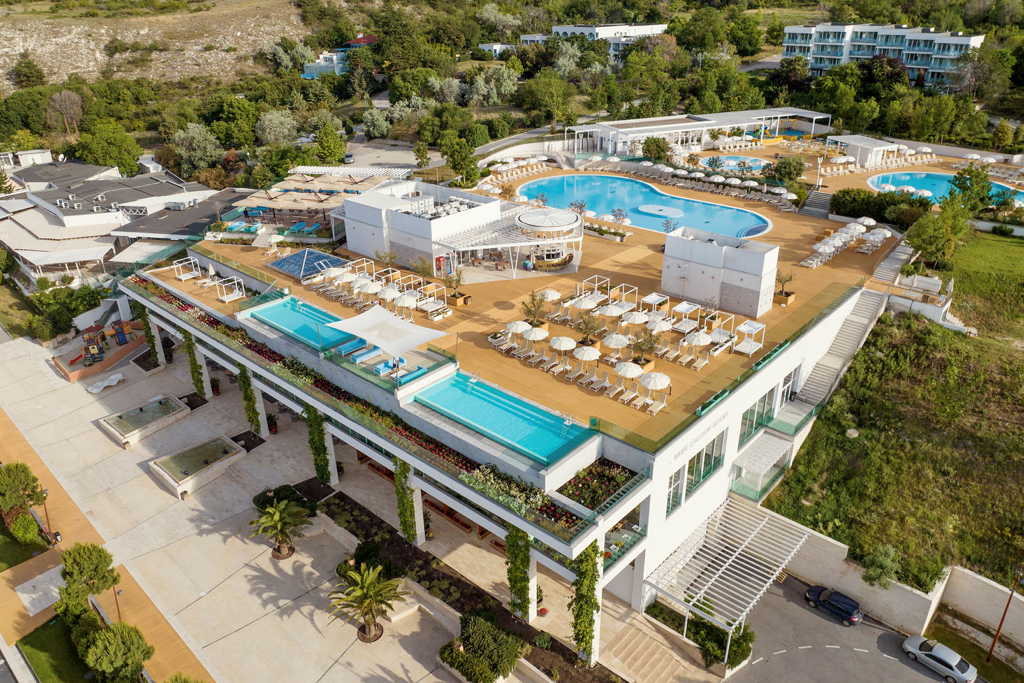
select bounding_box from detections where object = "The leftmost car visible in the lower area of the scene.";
[805,586,867,628]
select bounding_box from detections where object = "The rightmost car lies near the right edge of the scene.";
[902,636,976,683]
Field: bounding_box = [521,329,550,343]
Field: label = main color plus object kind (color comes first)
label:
white umbrella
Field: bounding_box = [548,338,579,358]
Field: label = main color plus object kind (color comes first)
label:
white umbrella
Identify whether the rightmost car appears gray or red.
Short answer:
gray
